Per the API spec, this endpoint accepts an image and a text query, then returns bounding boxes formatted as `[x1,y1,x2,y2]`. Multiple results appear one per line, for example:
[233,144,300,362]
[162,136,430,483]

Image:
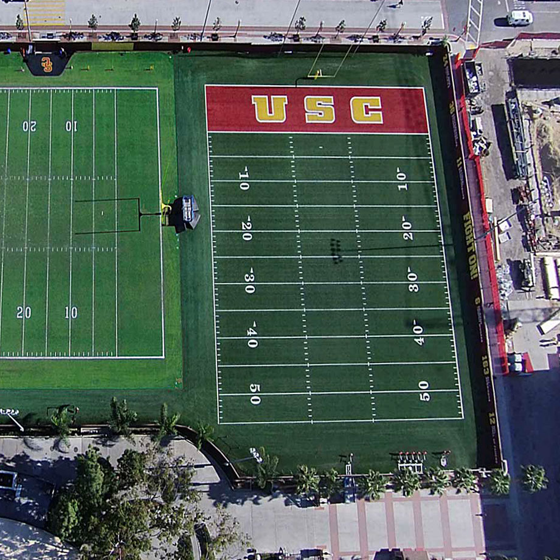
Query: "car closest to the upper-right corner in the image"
[505,11,531,26]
